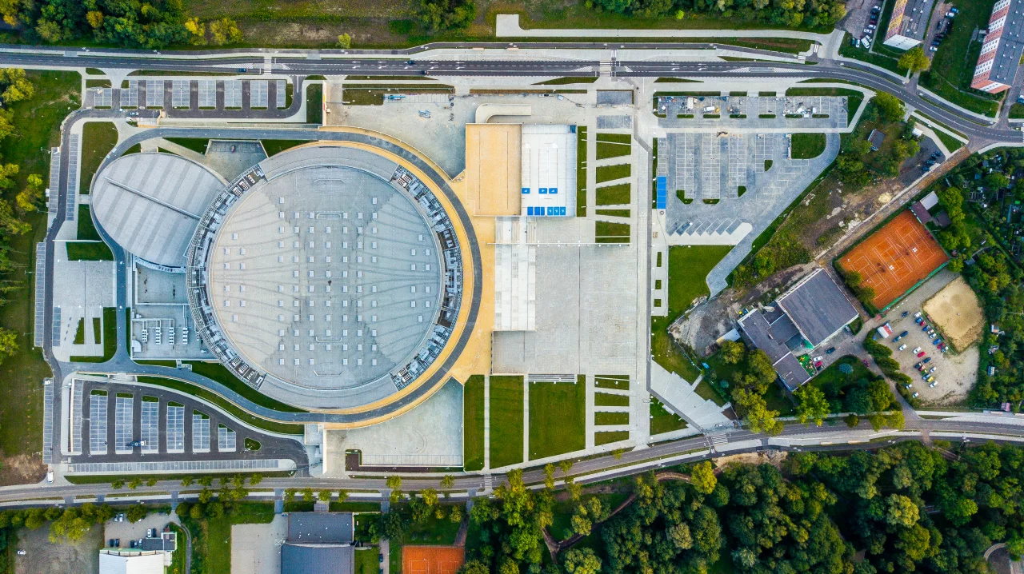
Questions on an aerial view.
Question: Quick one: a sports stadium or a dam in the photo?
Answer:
sports stadium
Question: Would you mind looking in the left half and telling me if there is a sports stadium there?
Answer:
Yes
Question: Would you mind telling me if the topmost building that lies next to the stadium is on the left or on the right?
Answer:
left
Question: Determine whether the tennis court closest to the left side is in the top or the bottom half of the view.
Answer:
bottom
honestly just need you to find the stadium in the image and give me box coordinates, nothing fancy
[187,147,464,409]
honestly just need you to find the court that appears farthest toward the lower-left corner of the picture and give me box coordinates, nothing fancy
[402,544,465,574]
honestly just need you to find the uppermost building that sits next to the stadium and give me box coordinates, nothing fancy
[92,151,226,276]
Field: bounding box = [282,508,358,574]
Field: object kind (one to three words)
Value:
building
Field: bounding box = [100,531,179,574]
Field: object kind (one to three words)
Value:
building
